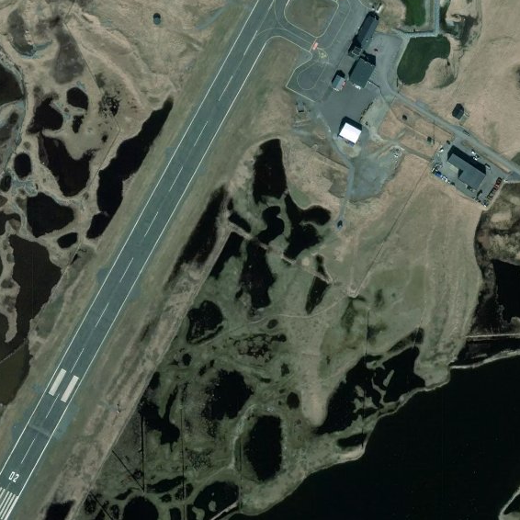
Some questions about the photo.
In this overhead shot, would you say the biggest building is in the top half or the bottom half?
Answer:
top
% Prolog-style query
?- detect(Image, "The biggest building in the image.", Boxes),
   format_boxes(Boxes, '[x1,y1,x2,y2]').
[450,152,489,188]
